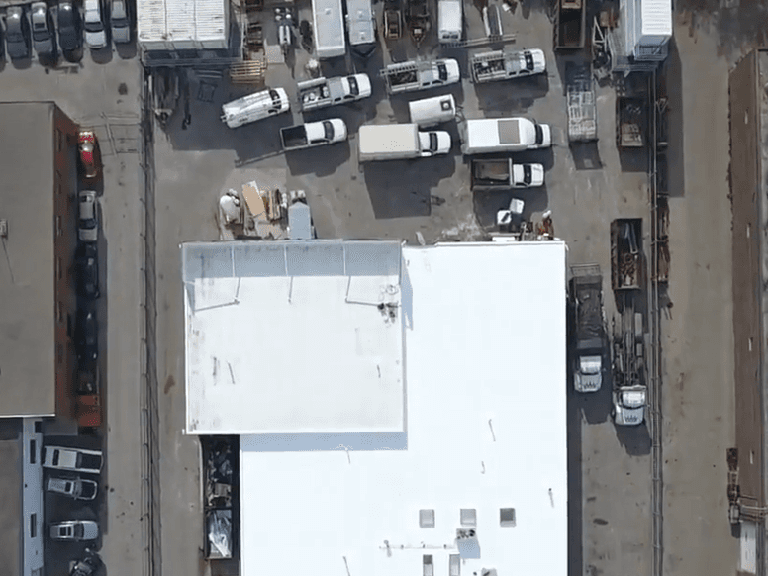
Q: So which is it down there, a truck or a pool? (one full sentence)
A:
Looking from above, you can make out a truck.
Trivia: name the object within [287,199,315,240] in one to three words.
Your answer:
trailer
